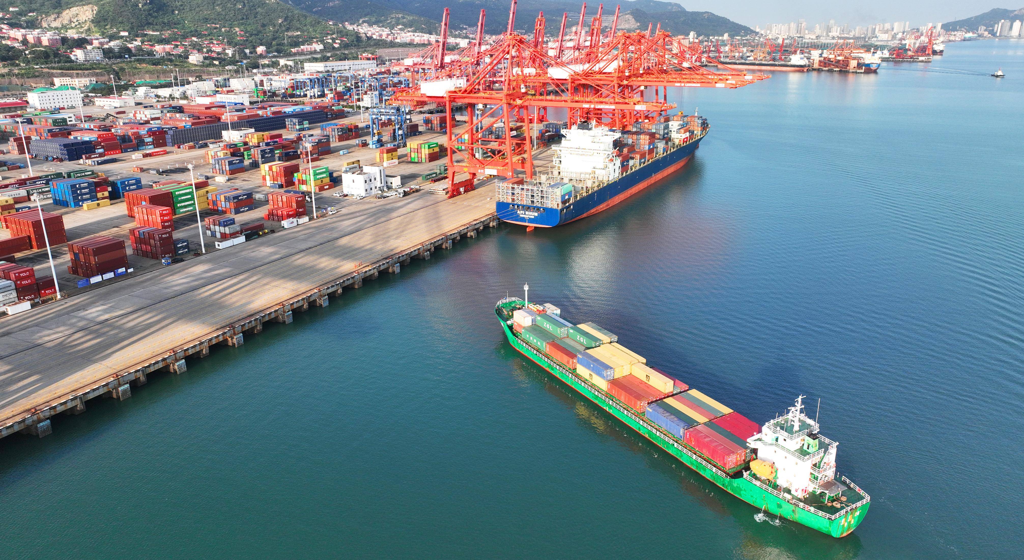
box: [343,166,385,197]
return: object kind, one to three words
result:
building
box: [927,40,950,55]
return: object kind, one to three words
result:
ship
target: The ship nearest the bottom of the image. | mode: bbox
[495,282,874,540]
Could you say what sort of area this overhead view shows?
port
